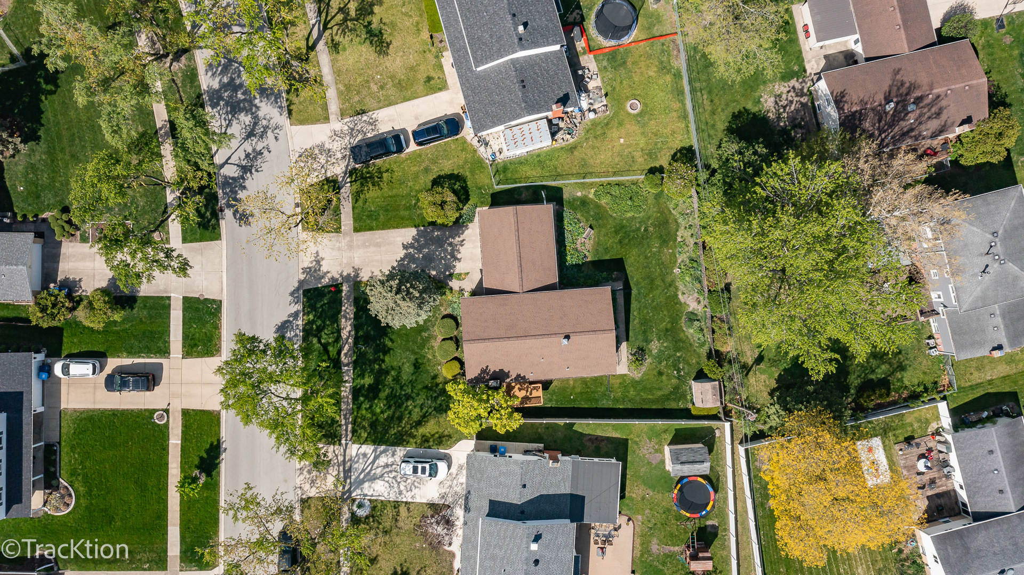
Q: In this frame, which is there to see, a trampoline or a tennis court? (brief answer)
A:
trampoline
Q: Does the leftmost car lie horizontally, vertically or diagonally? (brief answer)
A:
horizontally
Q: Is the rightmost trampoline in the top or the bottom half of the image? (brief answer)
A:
bottom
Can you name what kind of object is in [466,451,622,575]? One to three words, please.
house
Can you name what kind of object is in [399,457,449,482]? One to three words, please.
car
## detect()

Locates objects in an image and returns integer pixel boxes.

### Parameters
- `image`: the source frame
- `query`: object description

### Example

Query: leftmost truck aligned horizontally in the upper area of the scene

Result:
[347,132,407,163]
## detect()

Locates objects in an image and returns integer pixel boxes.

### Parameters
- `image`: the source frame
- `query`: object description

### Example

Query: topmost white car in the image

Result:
[54,357,101,381]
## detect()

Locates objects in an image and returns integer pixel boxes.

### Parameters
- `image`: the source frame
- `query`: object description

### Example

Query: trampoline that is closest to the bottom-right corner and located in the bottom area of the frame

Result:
[671,477,716,523]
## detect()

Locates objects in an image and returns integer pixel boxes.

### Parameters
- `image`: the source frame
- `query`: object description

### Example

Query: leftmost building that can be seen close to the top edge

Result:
[437,0,580,137]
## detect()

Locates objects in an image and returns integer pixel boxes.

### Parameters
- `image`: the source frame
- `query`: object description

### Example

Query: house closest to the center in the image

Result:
[461,191,618,392]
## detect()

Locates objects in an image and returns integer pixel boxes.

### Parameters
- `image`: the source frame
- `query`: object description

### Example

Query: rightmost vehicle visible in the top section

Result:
[410,118,462,148]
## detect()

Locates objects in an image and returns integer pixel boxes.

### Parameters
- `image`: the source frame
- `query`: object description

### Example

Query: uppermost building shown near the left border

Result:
[0,215,47,302]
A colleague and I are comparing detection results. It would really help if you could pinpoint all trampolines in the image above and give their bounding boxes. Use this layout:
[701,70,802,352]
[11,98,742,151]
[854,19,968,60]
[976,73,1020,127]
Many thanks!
[671,477,716,523]
[591,0,636,45]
